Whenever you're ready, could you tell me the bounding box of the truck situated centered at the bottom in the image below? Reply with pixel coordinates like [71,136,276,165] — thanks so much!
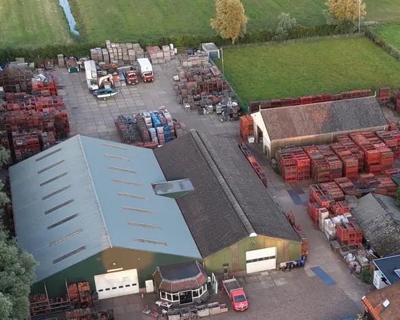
[224,281,247,307]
